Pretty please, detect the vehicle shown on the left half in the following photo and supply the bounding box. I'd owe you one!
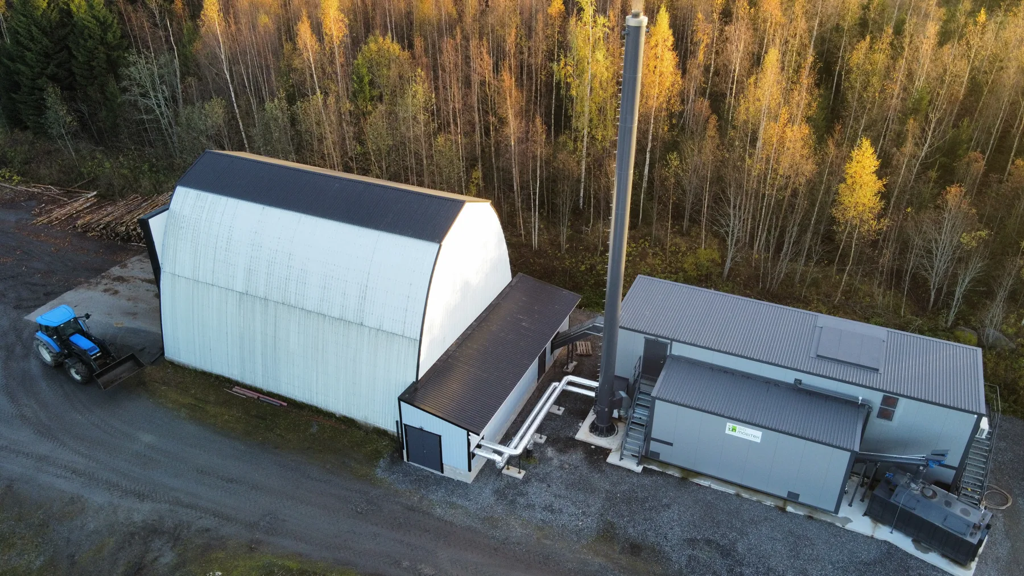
[35,307,143,398]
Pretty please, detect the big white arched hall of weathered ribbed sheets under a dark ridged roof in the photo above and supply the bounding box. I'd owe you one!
[135,149,513,434]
